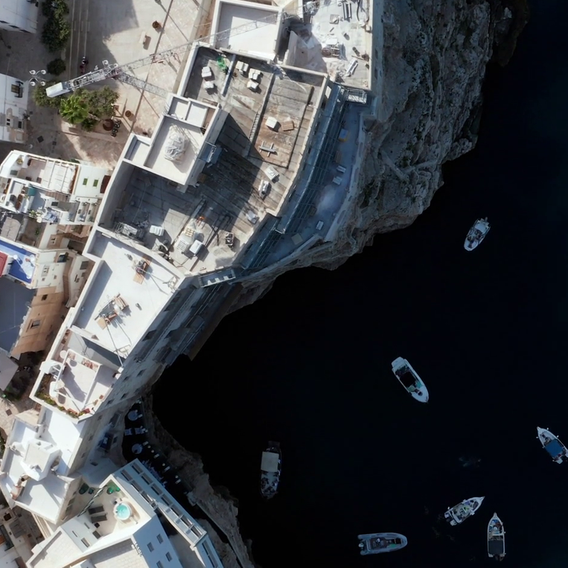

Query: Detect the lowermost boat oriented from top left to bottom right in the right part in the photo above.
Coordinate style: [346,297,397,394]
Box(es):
[537,427,568,466]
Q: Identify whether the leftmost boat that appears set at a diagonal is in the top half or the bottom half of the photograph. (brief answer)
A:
bottom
